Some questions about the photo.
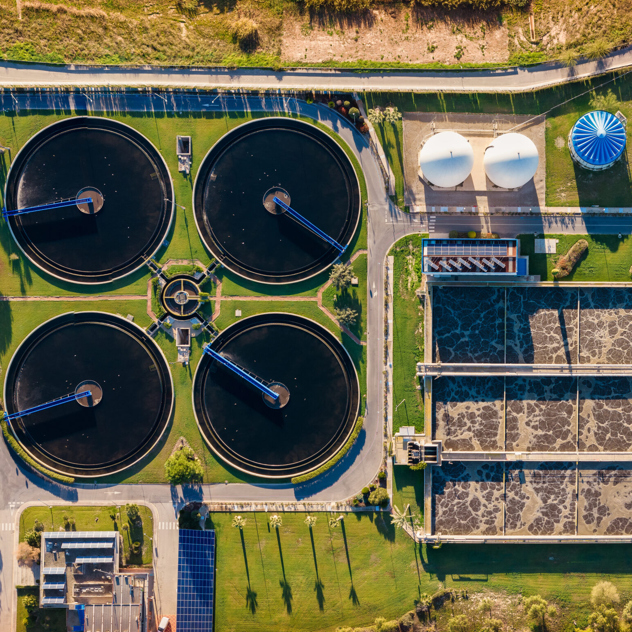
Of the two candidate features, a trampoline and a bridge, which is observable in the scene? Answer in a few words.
bridge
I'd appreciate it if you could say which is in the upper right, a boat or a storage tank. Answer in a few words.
storage tank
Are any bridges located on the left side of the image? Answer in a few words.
Yes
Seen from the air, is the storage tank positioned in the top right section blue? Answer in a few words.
Yes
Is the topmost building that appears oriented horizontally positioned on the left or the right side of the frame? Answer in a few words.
right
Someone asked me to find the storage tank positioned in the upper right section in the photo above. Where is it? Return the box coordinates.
[568,109,627,169]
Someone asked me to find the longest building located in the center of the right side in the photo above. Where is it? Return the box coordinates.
[421,238,517,276]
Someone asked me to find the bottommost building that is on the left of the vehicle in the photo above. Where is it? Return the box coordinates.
[70,570,152,632]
